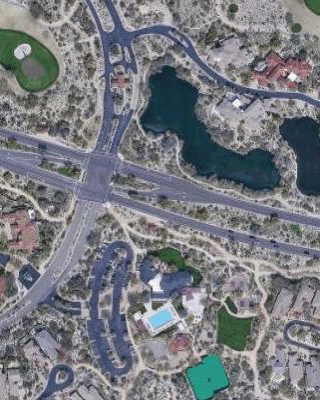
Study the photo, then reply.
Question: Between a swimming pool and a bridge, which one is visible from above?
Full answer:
The image shows a swimming pool.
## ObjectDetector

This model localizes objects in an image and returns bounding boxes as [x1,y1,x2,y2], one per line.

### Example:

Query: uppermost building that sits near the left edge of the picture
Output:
[4,207,38,251]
